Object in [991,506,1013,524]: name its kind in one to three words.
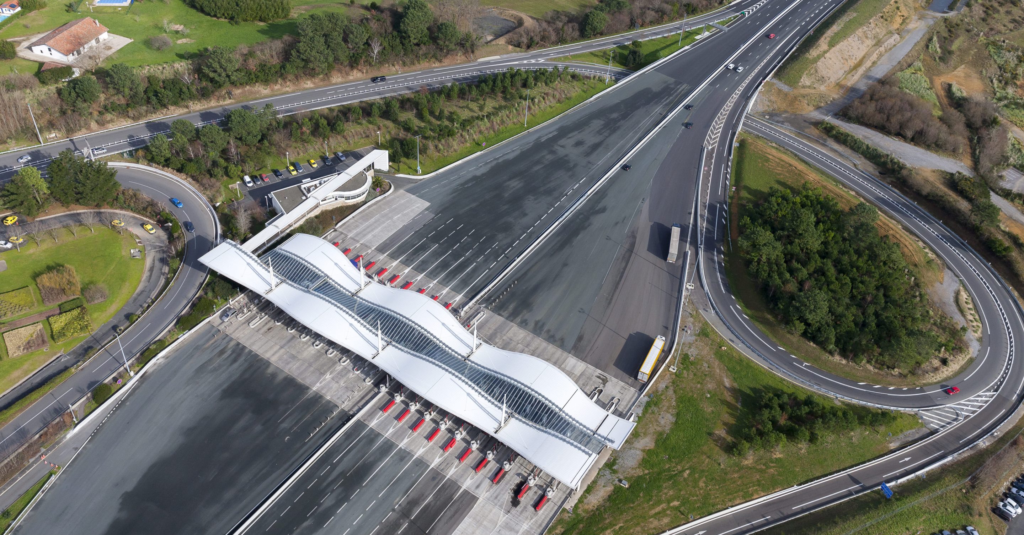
car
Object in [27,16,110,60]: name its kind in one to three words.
house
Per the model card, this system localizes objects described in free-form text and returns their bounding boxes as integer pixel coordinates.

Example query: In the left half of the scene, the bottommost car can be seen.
[220,308,237,322]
